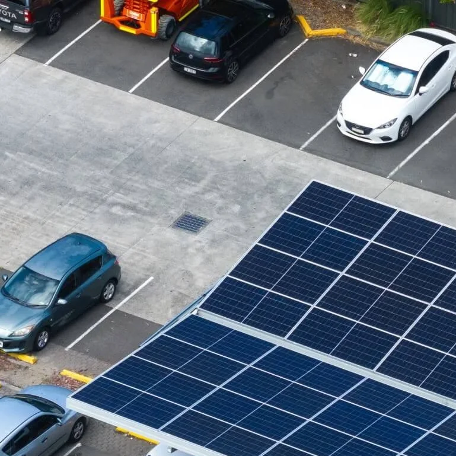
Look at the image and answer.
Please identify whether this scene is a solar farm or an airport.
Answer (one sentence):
The area seen from above is a solar farm.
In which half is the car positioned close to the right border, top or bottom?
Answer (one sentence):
Seen from above, the car positioned close to the right border lies in the top half of the view.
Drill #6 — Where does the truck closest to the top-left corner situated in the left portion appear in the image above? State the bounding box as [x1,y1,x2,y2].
[0,0,73,36]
